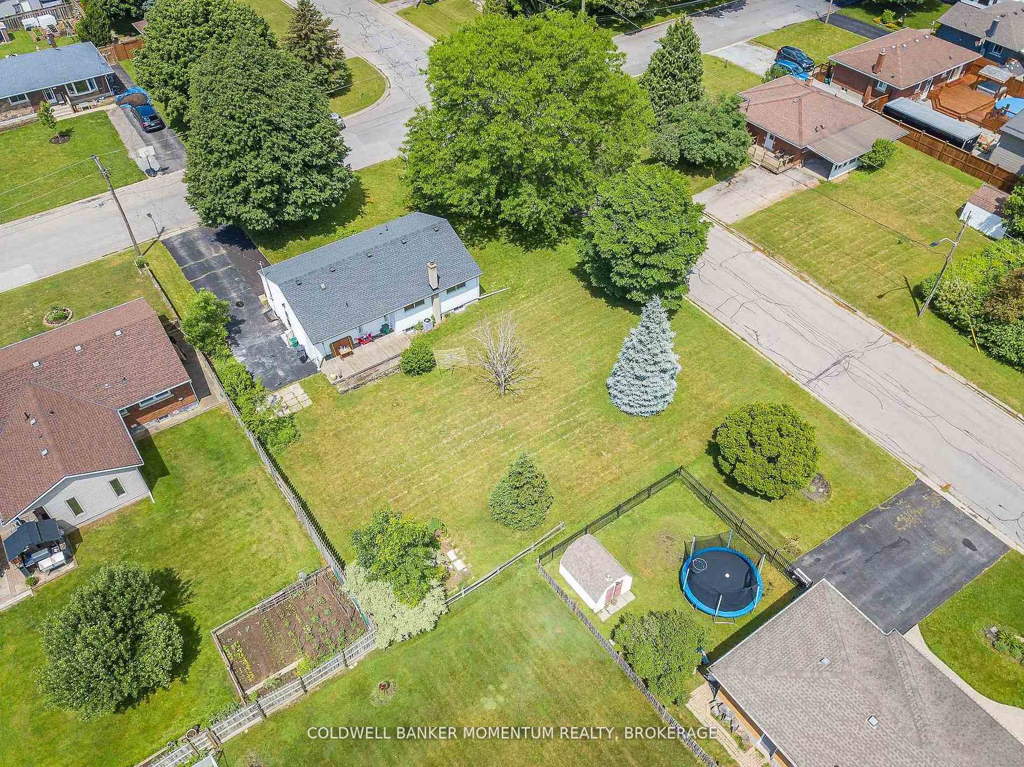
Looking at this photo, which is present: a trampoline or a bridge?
trampoline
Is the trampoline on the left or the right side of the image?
right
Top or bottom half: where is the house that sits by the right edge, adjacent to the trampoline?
bottom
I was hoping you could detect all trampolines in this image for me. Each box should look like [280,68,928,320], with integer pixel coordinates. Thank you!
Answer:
[679,529,768,624]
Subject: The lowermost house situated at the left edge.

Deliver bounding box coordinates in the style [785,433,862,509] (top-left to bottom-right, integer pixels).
[0,294,198,528]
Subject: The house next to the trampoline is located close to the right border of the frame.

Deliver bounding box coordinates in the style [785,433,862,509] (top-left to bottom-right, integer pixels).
[703,578,1024,767]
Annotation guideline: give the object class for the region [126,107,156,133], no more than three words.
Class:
car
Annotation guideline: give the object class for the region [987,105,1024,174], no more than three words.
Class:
house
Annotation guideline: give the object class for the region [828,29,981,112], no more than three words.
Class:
house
